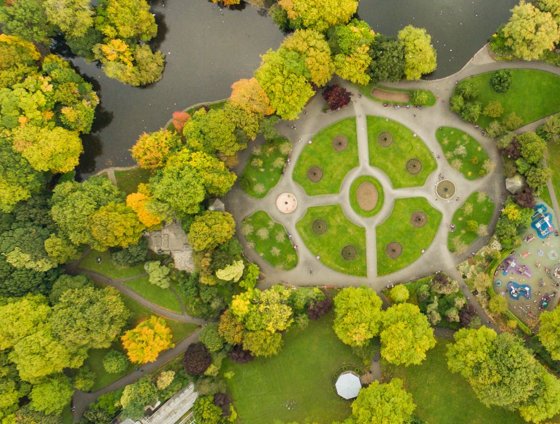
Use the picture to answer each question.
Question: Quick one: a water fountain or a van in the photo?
water fountain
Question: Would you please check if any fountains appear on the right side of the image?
Yes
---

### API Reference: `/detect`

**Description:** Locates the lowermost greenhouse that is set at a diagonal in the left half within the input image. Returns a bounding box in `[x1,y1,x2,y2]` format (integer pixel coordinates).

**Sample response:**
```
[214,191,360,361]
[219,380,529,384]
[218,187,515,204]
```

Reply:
[144,382,199,424]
